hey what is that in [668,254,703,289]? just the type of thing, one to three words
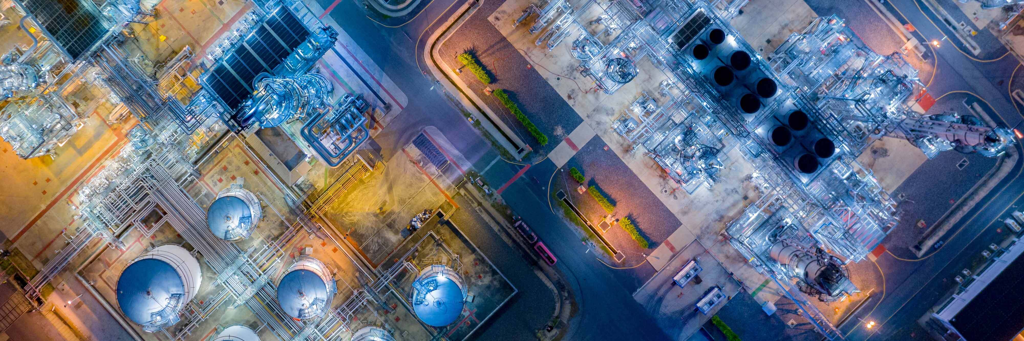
trailer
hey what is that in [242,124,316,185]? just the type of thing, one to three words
shed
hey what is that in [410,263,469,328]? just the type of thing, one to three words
storage tank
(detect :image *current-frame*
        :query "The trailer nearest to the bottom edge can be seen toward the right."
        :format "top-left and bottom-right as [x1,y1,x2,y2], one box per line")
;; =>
[691,281,728,318]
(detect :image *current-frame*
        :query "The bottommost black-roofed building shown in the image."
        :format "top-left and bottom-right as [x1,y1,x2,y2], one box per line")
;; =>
[935,232,1024,341]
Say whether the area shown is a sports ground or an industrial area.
industrial area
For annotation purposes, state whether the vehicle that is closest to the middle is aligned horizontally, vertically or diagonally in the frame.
diagonally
